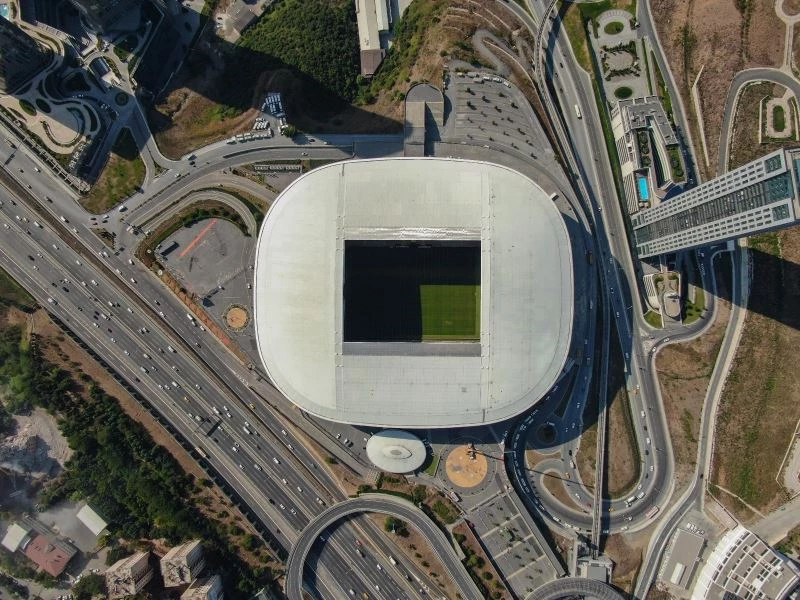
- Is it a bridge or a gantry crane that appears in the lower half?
bridge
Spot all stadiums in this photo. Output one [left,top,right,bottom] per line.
[254,157,574,429]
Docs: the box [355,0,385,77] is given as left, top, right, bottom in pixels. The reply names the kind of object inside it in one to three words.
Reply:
shed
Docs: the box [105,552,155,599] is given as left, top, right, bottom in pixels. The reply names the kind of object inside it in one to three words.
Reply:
building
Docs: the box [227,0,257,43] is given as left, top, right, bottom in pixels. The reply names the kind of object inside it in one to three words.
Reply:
house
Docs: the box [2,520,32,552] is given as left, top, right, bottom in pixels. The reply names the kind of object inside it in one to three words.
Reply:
shed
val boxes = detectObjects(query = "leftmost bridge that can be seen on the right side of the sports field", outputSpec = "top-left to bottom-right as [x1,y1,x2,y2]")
[534,0,609,556]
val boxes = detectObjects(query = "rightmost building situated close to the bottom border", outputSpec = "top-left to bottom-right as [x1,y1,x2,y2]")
[684,522,800,600]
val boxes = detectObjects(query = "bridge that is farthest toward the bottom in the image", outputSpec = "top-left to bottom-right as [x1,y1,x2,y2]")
[283,495,487,600]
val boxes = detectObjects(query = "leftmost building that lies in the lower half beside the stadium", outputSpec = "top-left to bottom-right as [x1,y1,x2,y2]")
[366,429,427,473]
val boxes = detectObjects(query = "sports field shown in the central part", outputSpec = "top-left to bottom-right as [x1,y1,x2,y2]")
[345,251,474,336]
